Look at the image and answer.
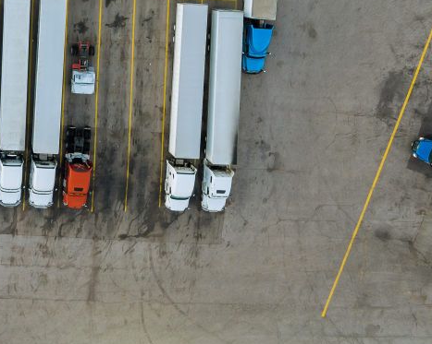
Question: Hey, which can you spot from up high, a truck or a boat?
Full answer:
It is a truck that can be seen here.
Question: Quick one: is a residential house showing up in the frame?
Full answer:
No, the picture doesn't show any residential house.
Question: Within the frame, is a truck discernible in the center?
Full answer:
Yes, looking in the center, one can make out a truck.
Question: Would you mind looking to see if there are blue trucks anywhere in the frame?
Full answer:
Yes, I can see a blue truck in this picture.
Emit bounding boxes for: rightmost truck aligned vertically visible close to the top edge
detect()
[241,0,274,73]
